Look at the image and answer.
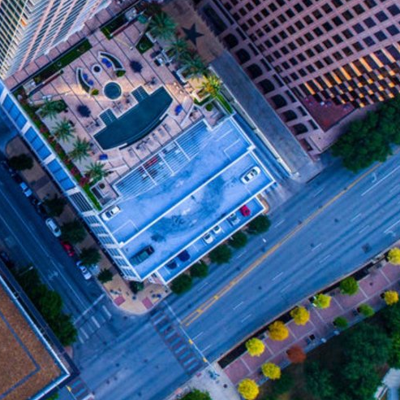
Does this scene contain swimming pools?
Yes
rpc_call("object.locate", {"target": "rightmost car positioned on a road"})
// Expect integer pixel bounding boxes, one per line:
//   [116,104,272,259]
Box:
[75,260,93,280]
